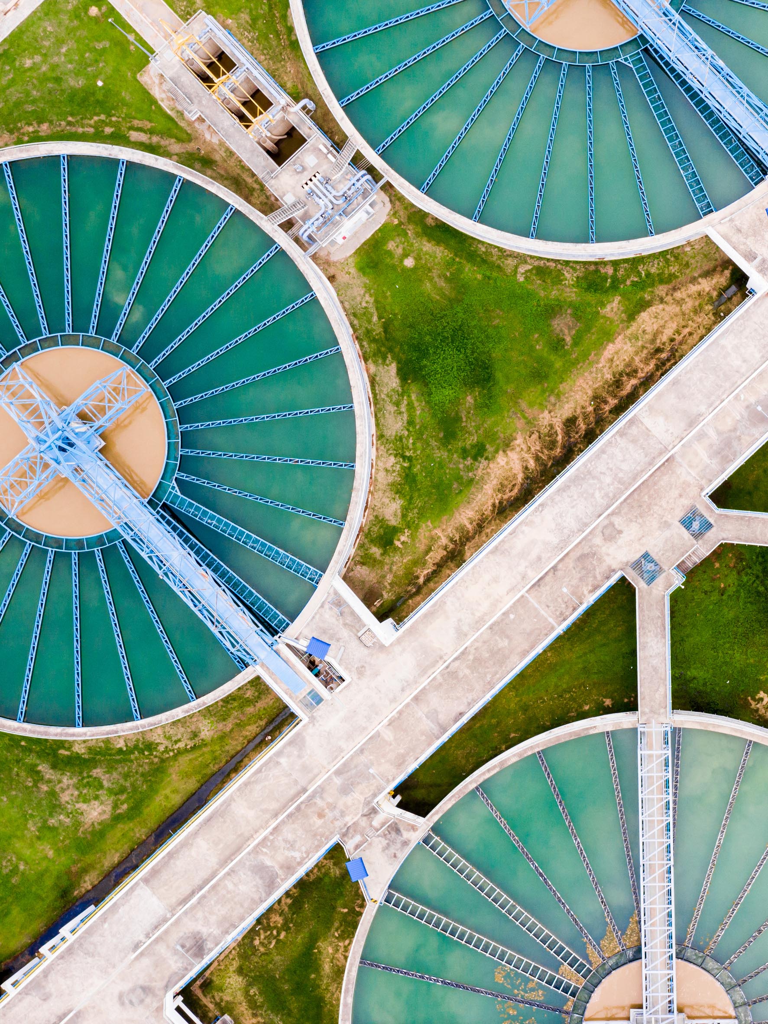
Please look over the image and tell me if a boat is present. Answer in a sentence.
No, no boat is visible in the view.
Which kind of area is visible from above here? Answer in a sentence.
The picture captures an industrial area.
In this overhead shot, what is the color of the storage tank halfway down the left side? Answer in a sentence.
The storage tank halfway down the left side is blue.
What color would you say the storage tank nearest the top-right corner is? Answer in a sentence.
The color of the storage tank nearest the top-right corner is blue.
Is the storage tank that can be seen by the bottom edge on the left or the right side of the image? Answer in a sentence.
You can find the storage tank that can be seen by the bottom edge on the right side of the picture.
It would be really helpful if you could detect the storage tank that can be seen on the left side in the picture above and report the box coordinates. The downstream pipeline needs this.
[0,143,364,738]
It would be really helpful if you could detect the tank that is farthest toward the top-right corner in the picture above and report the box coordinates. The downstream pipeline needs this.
[296,0,768,260]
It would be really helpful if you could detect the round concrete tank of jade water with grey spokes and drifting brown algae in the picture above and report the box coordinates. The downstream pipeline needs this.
[343,718,768,1024]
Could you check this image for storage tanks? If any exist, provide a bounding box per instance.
[296,0,768,260]
[343,718,768,1024]
[0,143,364,738]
